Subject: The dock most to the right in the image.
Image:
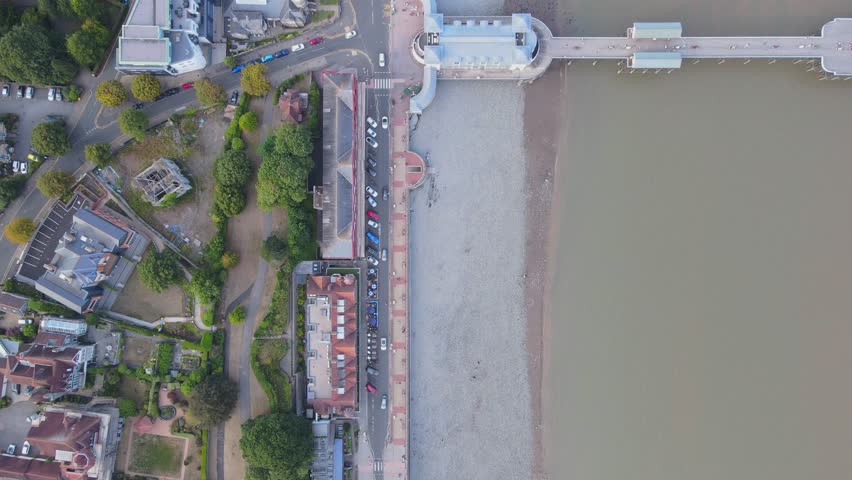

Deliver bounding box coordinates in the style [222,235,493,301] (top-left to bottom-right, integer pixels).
[551,17,852,80]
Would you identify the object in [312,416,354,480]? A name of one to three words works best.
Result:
building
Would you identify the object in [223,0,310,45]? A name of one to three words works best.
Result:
house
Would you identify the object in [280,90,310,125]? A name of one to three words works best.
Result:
house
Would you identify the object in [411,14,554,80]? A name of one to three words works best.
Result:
building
